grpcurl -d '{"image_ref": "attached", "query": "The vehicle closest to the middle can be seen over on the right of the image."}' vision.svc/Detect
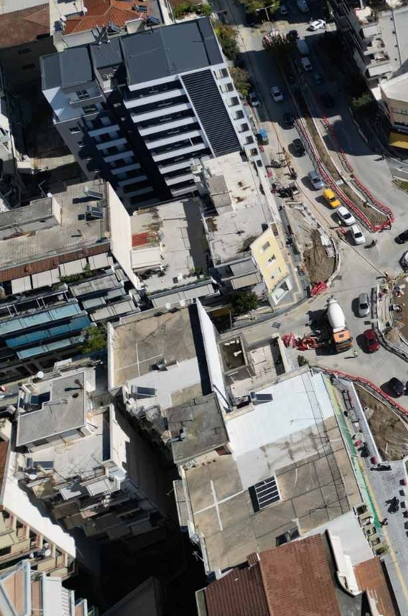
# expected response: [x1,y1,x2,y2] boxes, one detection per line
[298,333,321,349]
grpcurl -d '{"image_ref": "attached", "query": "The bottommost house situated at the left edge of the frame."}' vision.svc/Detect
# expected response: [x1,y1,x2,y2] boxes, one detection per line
[0,563,105,616]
